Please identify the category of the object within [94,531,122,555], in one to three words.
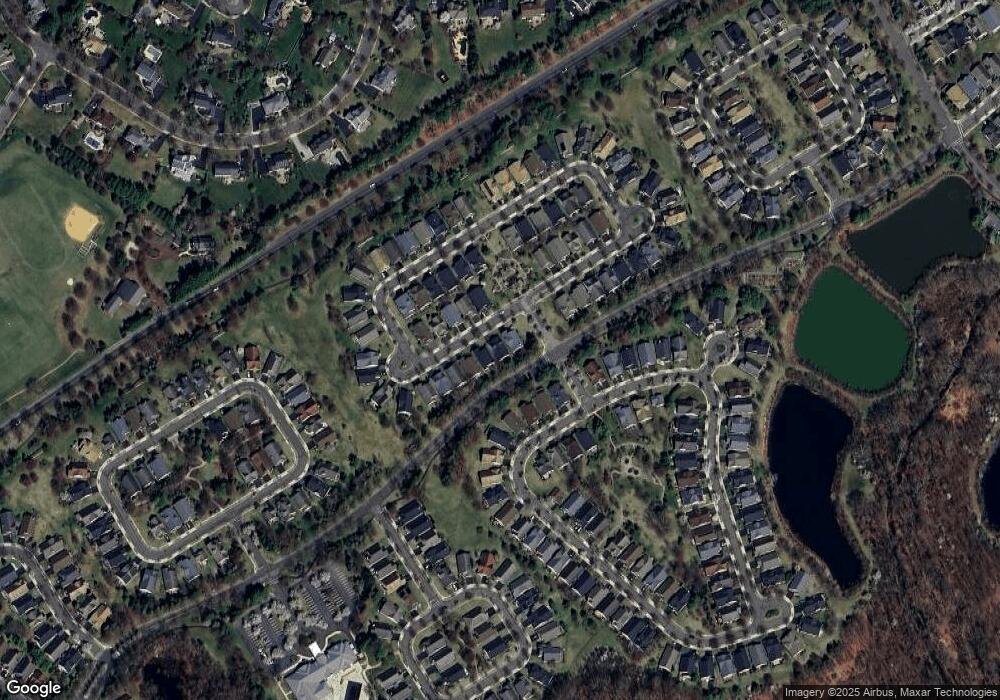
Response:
house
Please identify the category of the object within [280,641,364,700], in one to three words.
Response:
building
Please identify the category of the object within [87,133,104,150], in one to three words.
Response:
swimming pool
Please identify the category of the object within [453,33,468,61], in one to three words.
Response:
swimming pool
